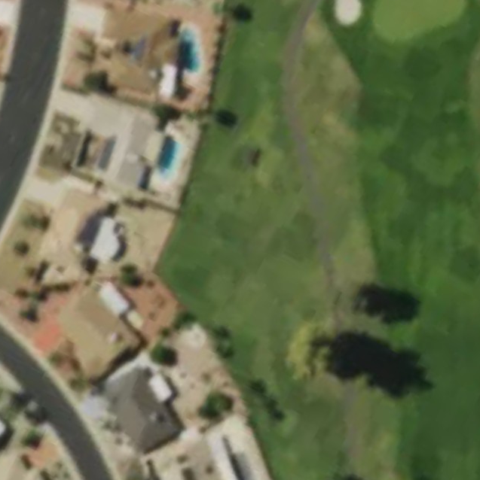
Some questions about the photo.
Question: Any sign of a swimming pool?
Yes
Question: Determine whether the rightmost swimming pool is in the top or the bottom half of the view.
top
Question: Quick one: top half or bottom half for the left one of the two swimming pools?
top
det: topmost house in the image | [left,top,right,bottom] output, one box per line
[99,5,180,98]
